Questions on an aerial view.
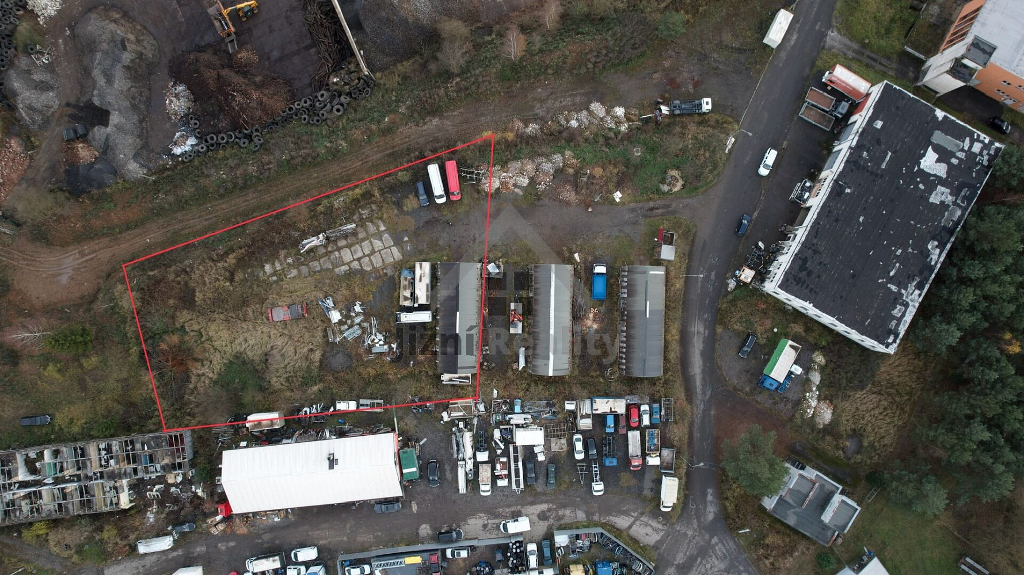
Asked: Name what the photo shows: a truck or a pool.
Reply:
truck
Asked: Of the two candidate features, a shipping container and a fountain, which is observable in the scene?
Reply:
shipping container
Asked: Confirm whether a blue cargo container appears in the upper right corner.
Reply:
No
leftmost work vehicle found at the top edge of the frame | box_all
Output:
[225,0,265,25]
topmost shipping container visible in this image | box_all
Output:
[763,8,794,48]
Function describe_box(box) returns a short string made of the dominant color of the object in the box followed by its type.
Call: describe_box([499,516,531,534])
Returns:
white vehicle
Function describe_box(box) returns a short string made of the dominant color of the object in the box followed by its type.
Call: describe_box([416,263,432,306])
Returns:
white trailer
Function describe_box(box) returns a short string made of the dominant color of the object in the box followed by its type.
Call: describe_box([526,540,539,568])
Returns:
white vehicle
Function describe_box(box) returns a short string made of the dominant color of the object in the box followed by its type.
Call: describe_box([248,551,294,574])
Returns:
white truck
